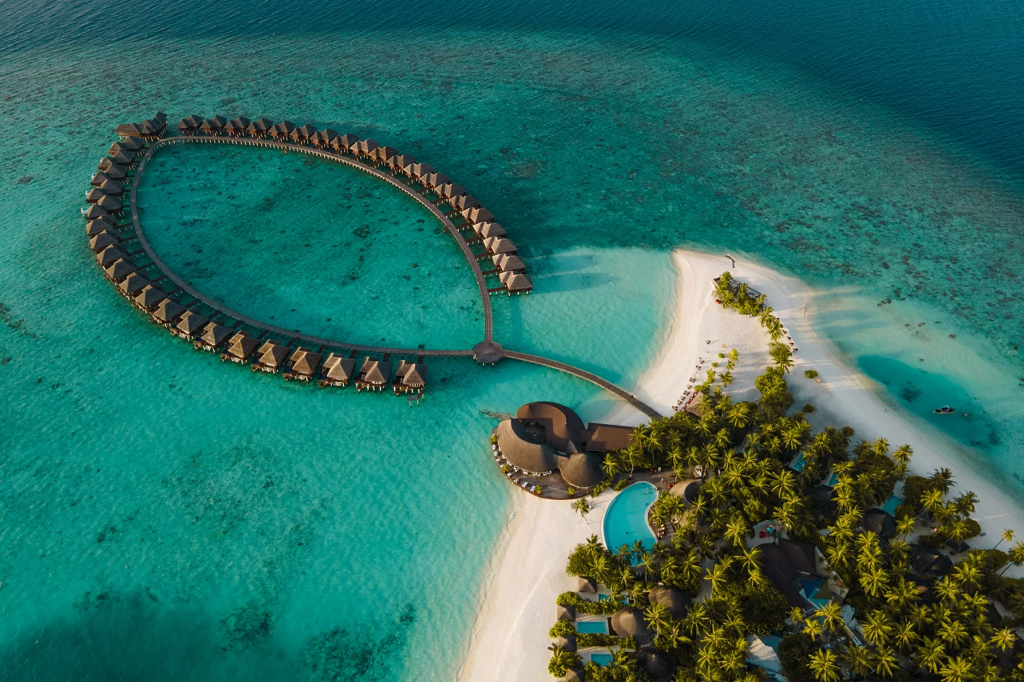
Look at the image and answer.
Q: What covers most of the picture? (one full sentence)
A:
The bulk of the photo consists of water.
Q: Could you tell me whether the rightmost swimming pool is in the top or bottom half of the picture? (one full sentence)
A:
The rightmost swimming pool is in the bottom half of the image.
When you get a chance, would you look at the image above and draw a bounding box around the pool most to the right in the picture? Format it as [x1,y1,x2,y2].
[879,493,906,519]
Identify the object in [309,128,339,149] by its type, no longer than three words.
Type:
house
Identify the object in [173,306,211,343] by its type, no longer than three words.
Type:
house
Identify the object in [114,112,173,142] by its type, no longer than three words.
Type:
shed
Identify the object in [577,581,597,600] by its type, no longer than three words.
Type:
shed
